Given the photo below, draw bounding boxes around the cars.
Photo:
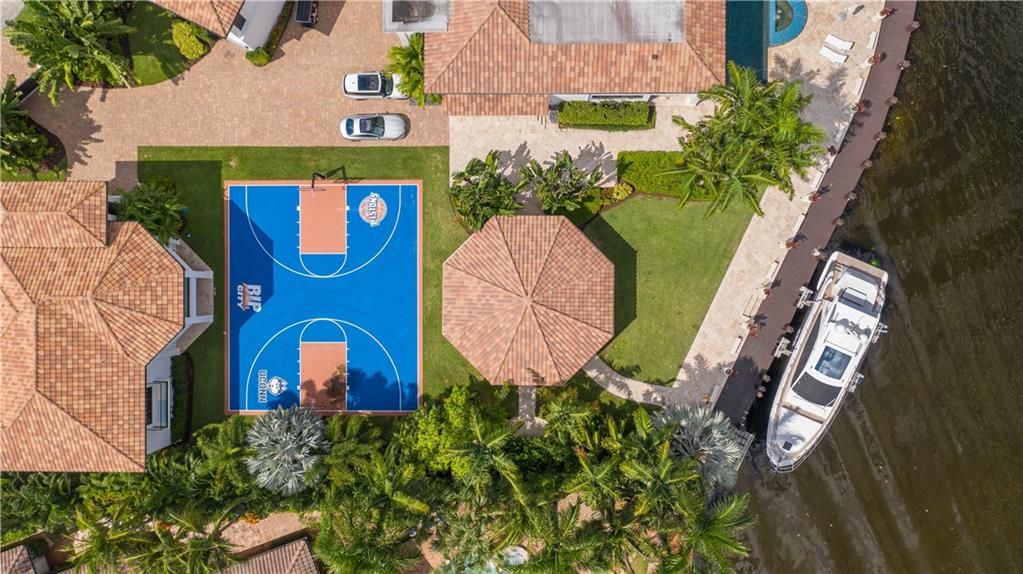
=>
[343,69,409,102]
[340,110,407,142]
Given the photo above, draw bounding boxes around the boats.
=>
[768,253,889,475]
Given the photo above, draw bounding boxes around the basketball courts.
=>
[225,181,423,415]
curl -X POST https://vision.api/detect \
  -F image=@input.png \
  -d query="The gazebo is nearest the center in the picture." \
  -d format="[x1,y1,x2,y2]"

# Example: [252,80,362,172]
[442,215,615,386]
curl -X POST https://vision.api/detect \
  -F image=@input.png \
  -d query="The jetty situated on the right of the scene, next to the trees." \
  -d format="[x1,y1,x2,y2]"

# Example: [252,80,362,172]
[713,0,917,427]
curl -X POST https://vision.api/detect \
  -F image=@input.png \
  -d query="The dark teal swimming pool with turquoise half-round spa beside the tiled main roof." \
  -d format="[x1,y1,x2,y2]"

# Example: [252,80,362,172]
[726,0,811,83]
